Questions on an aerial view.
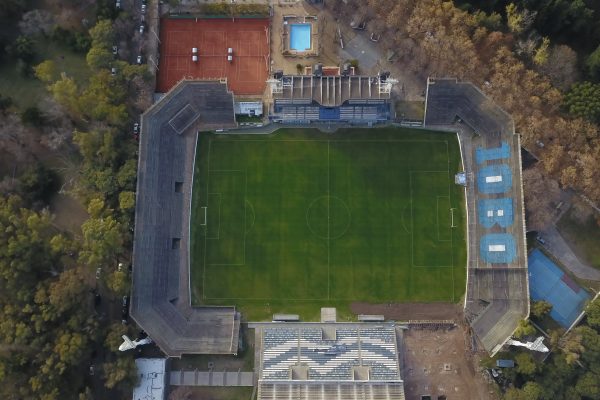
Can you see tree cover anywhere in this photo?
Yes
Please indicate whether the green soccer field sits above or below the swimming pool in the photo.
below it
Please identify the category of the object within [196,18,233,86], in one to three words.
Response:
tennis court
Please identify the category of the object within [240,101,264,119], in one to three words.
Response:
building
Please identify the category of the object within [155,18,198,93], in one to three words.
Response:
tennis court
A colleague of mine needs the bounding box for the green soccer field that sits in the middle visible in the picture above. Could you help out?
[191,128,466,322]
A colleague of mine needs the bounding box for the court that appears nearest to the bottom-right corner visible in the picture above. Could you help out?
[529,247,591,328]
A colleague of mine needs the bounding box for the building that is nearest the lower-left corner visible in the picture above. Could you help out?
[131,355,171,400]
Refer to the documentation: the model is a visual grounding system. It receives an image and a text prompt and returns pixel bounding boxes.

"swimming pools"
[288,22,313,54]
